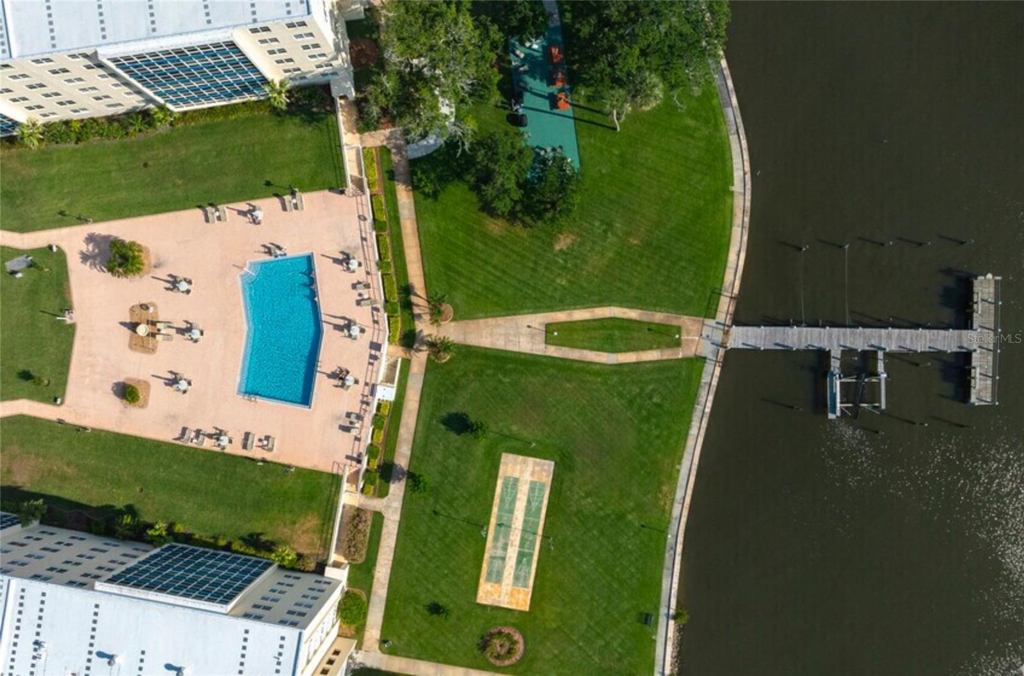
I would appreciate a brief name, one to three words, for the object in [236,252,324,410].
swimming pool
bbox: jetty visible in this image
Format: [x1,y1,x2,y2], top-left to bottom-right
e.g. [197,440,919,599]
[726,276,1003,405]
